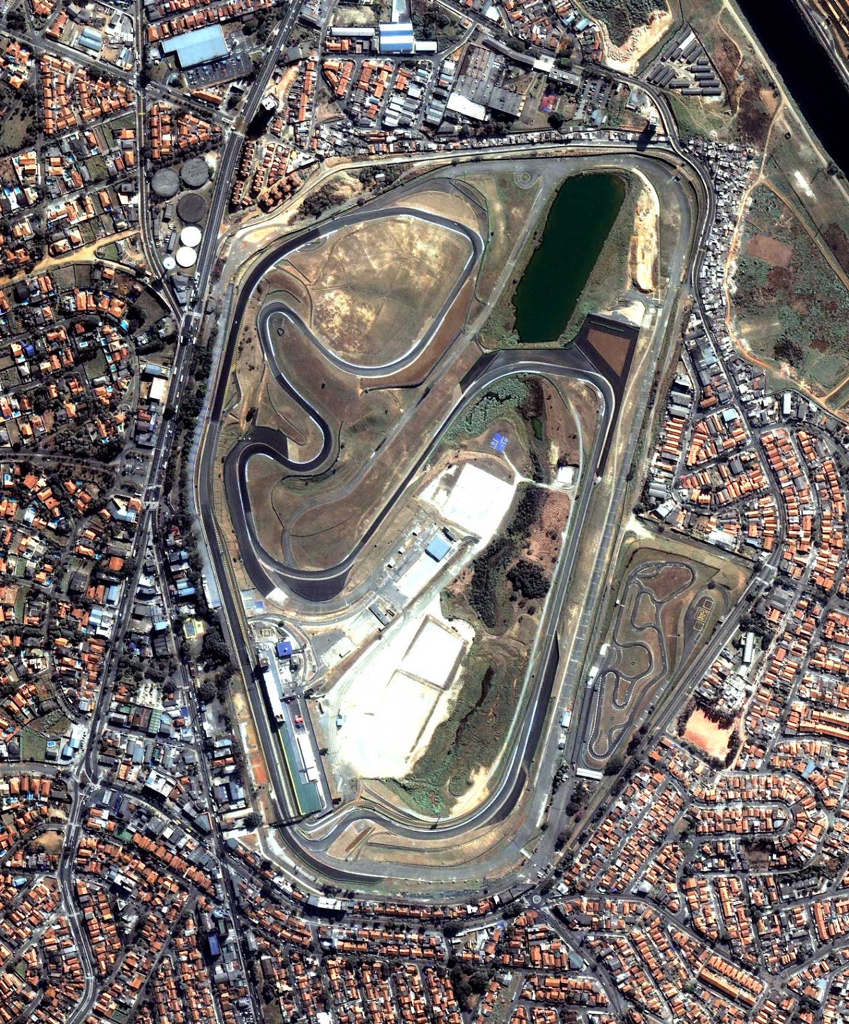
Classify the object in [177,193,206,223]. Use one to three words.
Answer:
storage tank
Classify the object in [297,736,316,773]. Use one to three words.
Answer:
shed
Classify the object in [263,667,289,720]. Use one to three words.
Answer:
building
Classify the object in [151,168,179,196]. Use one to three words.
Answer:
storage tank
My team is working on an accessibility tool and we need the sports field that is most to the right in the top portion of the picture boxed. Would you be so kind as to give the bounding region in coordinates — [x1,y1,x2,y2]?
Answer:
[748,235,794,267]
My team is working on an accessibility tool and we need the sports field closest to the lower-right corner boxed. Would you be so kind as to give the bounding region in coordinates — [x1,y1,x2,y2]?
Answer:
[686,708,735,758]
